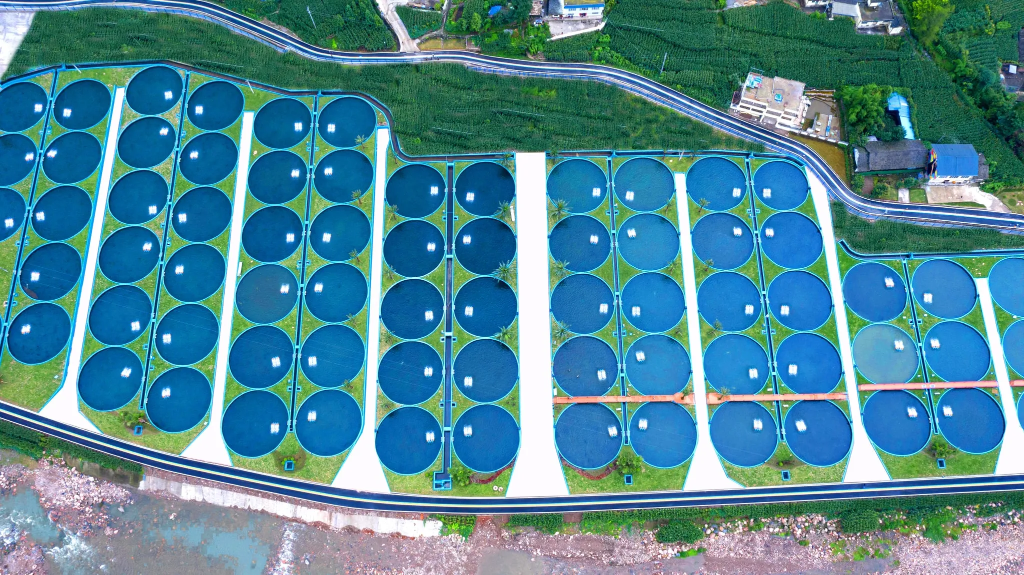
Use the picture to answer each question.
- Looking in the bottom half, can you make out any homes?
No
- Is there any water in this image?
Yes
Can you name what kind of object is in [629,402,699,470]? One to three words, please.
pond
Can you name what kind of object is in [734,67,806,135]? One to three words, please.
house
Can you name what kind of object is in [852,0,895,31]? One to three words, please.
house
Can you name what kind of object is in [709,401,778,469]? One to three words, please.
pond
